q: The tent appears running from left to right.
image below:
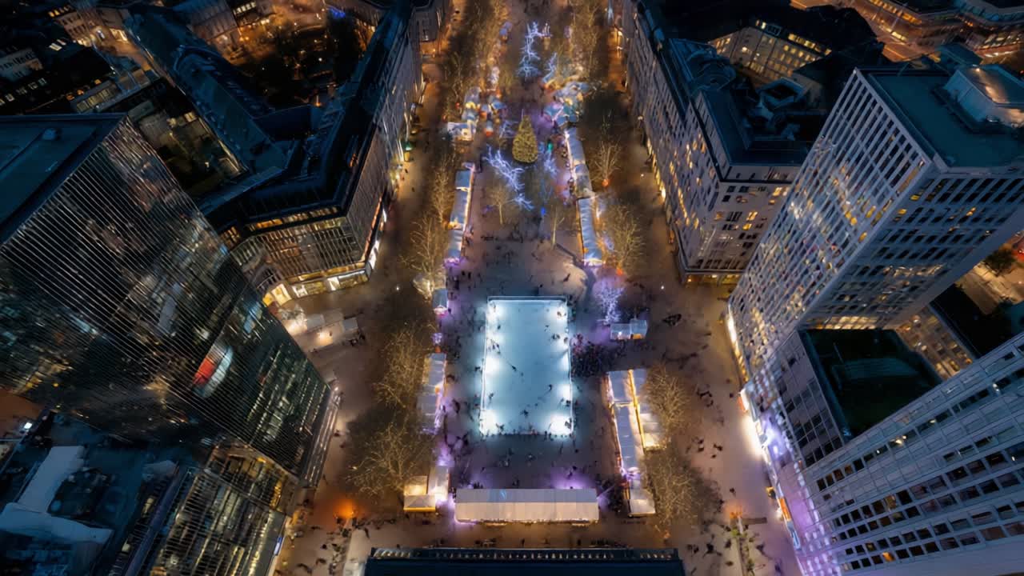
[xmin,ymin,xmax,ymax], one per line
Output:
[454,484,600,527]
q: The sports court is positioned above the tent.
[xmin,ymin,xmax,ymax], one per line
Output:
[474,292,579,440]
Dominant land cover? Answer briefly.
buildings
